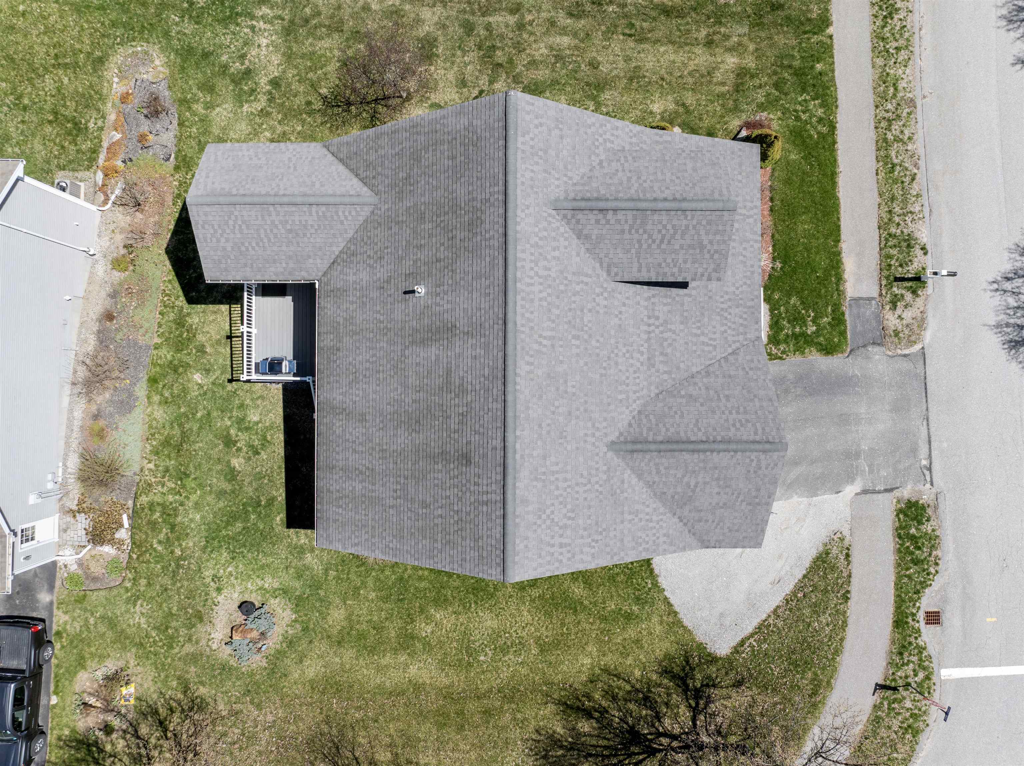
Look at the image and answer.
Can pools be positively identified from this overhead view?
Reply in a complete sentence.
No, no pool is visible in the scene.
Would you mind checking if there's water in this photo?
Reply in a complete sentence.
No, there is no water in the image.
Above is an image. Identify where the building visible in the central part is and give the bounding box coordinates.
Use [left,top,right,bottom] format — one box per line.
[185,90,789,584]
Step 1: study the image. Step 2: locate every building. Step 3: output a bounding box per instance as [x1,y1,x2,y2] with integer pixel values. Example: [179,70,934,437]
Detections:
[185,90,789,584]
[0,156,125,598]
